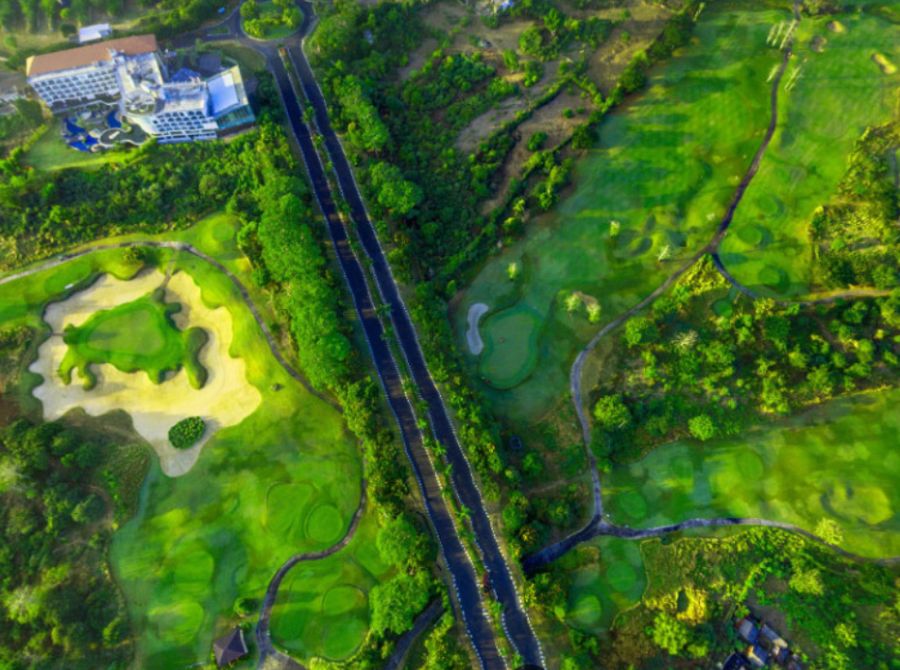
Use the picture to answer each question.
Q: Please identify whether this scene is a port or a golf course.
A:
golf course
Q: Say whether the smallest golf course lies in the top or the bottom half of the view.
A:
bottom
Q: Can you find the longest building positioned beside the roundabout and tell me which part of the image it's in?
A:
top left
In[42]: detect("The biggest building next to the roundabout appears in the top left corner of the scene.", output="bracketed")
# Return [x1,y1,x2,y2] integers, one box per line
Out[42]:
[27,35,265,148]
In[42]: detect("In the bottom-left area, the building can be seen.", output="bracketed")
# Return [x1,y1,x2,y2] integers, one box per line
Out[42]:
[209,623,250,670]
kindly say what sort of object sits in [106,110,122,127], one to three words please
swimming pool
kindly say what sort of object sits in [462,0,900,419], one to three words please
golf course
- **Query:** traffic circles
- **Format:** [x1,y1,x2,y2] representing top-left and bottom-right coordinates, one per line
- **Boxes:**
[230,0,314,45]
